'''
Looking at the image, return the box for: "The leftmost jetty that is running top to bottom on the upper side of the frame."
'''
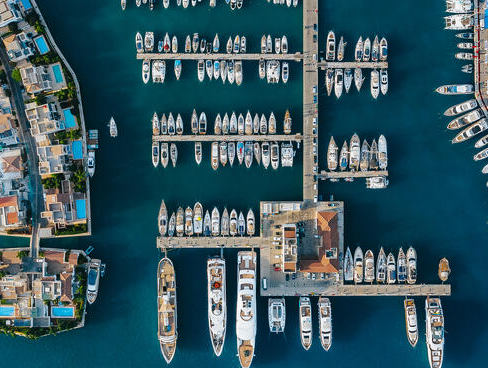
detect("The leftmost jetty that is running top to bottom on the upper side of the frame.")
[302,0,318,202]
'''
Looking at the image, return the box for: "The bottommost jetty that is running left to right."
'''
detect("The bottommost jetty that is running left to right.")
[344,284,450,296]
